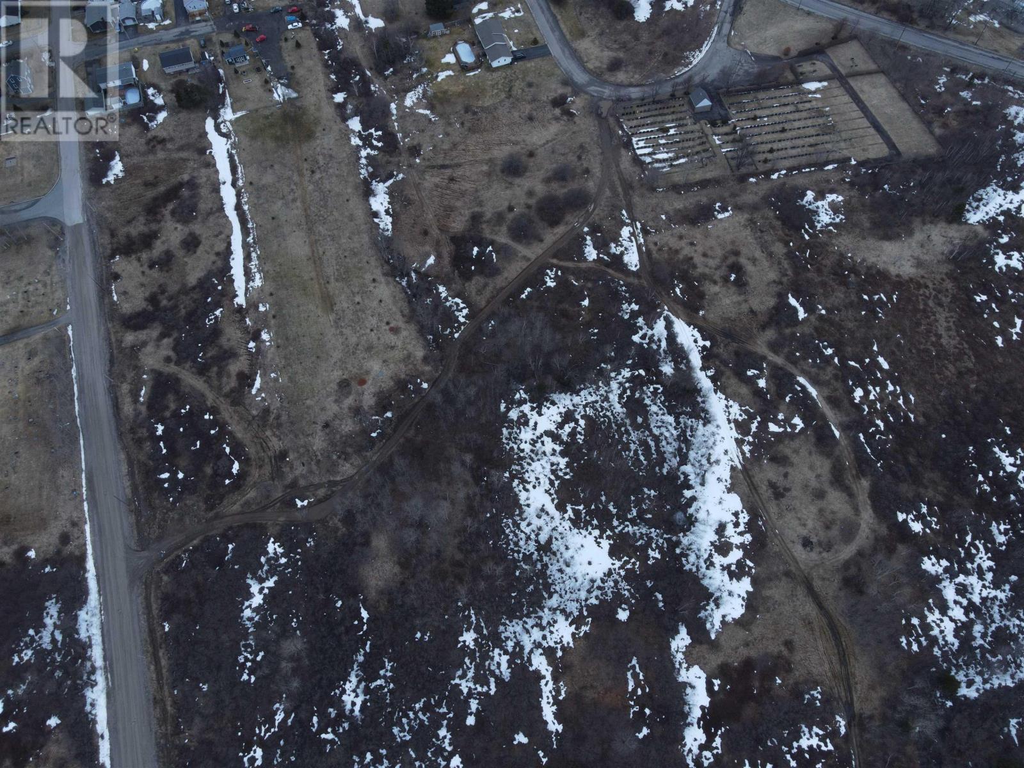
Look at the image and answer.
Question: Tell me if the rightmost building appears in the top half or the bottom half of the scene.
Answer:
top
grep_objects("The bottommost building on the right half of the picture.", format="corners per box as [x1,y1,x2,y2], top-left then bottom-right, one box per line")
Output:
[690,86,712,115]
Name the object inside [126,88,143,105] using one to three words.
swimming pool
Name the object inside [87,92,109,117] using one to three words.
building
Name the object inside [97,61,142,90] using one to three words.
house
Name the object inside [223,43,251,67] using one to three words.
house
